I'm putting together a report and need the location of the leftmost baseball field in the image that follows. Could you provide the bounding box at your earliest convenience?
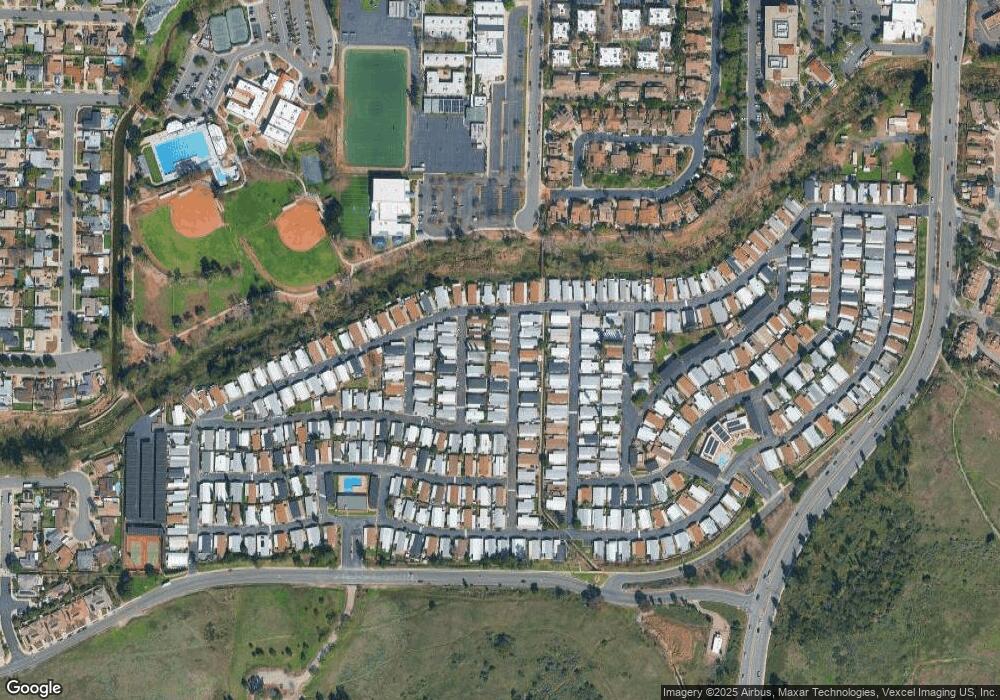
[141,180,246,276]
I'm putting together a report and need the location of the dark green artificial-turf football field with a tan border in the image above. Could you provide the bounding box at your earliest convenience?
[341,47,410,170]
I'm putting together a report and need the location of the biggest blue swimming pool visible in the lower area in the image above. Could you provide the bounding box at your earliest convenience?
[344,476,362,492]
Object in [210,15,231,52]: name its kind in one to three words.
tennis court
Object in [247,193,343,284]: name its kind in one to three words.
baseball field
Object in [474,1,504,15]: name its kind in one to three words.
building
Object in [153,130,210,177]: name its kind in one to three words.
swimming pool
